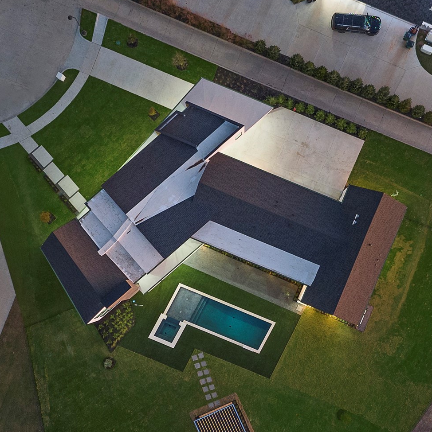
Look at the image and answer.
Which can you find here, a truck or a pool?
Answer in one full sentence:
It is a pool that can be seen here.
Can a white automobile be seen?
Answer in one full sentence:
No, there's no white automobile here.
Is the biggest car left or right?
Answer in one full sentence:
The biggest car appears in the right half of the scene.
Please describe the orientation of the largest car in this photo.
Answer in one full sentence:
In this picture, the largest car lies from side to side.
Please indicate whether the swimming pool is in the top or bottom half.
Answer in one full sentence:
Seen from above, the swimming pool lies in the bottom half of the view.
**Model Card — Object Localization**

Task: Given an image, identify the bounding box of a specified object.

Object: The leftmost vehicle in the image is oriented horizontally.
[331,11,382,37]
